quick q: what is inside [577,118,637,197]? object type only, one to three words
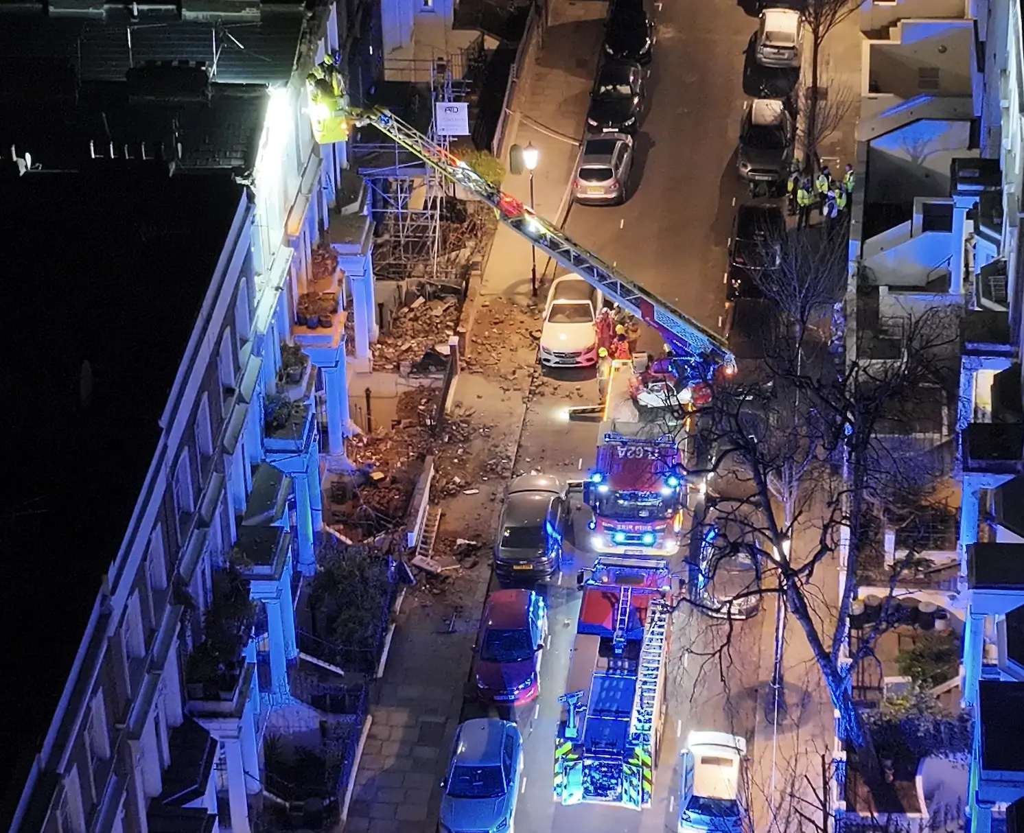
car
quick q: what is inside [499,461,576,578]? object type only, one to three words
car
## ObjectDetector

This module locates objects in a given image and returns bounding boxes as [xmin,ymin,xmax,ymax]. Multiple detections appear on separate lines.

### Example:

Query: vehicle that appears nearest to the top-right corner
[755,0,809,63]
